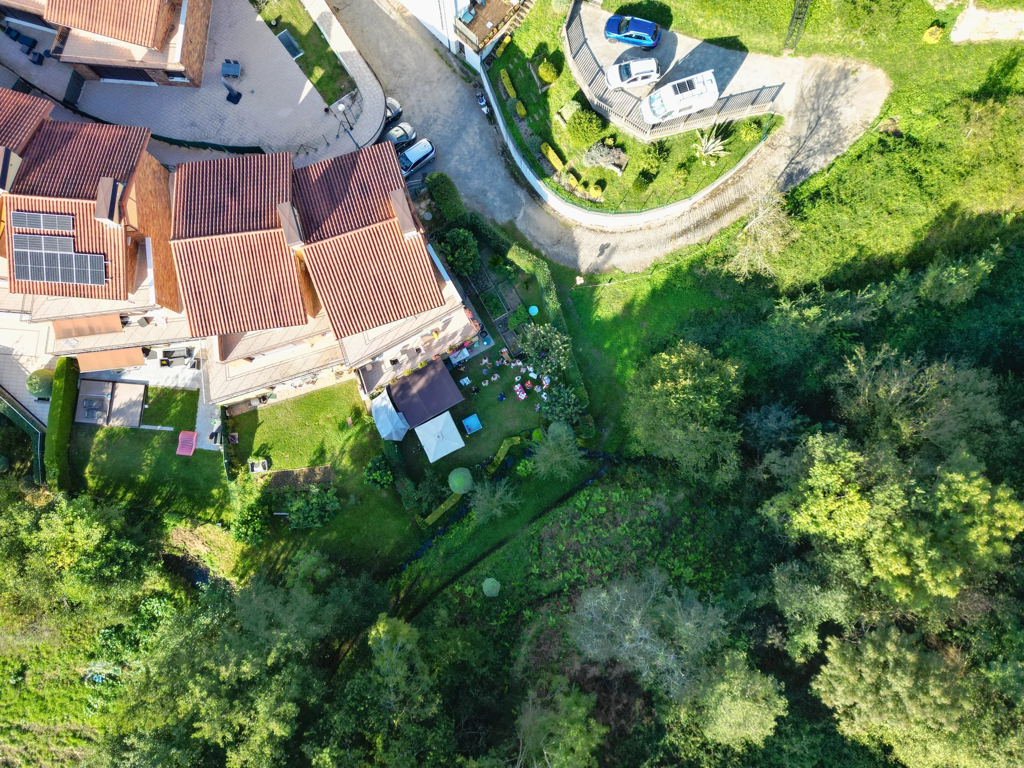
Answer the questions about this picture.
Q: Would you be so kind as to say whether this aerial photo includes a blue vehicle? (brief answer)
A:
Yes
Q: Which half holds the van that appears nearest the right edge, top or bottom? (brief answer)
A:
top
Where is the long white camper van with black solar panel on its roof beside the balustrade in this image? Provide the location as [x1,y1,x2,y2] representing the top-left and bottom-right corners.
[642,58,731,123]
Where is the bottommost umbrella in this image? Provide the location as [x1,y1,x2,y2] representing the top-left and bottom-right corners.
[414,411,464,463]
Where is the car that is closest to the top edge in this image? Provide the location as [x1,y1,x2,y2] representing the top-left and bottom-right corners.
[605,9,665,48]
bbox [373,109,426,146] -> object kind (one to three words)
car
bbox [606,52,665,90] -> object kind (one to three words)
car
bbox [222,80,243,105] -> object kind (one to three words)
umbrella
